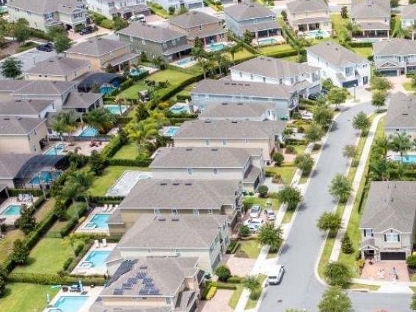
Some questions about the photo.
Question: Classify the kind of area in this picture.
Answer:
residential area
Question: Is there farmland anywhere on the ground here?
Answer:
No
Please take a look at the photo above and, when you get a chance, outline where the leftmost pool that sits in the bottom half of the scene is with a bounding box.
[0,203,19,217]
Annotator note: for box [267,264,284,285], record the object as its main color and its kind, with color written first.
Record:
white vehicle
